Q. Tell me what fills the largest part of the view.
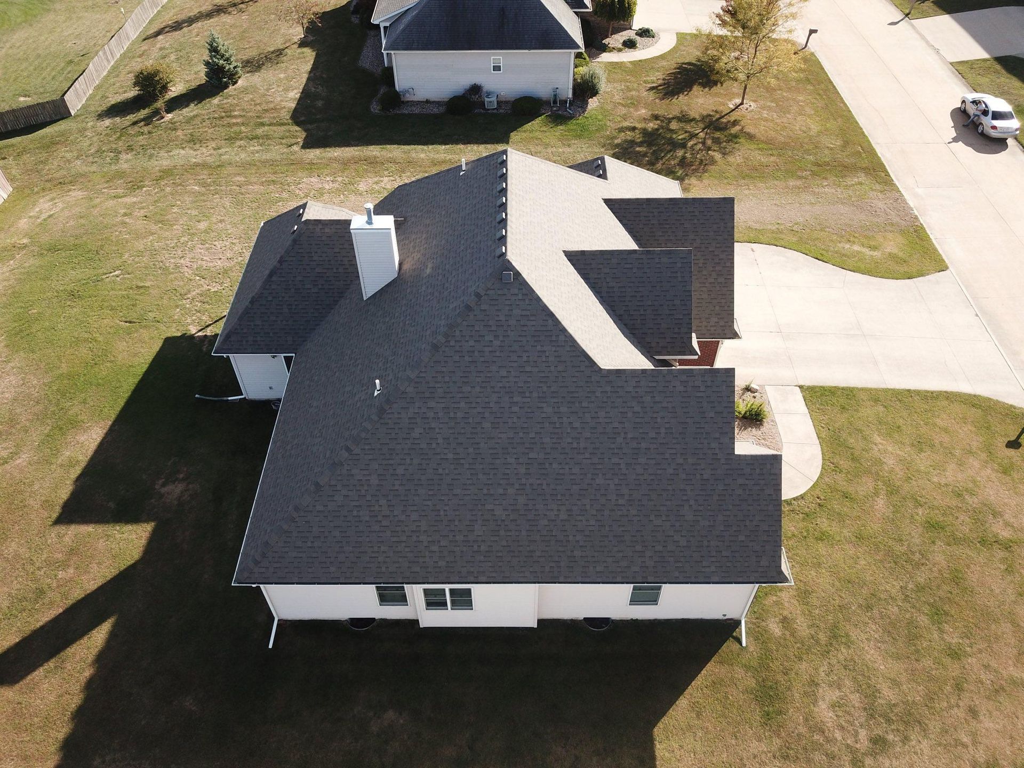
grass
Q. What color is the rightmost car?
white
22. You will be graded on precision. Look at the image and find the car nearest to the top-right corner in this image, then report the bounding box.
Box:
[959,90,1024,139]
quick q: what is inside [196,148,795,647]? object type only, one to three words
house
